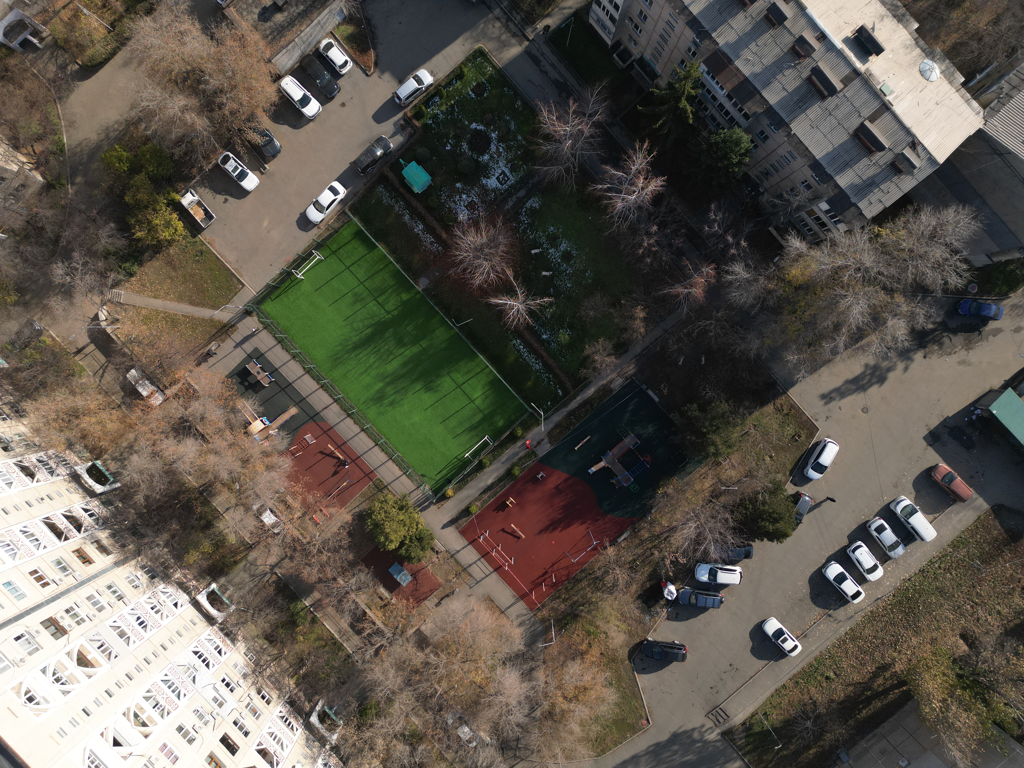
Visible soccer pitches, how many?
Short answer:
one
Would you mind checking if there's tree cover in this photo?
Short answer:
Yes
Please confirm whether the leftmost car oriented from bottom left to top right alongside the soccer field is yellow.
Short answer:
No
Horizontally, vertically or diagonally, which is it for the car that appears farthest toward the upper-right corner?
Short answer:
horizontally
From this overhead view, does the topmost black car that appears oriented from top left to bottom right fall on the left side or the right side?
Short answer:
left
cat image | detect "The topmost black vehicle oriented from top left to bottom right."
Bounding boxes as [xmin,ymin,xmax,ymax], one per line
[298,50,342,100]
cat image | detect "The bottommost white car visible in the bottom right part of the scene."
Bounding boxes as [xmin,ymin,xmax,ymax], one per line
[762,616,802,658]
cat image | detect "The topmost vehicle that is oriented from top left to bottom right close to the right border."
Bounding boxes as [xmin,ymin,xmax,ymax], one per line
[930,462,976,505]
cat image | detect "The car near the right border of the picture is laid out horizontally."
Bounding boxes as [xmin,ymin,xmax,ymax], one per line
[955,298,1004,321]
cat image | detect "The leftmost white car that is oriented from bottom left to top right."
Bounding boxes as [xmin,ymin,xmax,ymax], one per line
[305,179,348,225]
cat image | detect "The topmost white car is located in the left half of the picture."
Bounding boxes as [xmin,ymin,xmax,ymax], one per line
[317,35,355,78]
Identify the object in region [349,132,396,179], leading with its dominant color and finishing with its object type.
black car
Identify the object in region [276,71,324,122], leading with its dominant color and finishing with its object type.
white car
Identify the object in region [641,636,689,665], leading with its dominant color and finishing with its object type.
black car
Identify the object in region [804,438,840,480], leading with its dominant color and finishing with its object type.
white car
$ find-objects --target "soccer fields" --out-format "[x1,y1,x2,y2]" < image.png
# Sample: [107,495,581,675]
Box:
[260,221,531,496]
